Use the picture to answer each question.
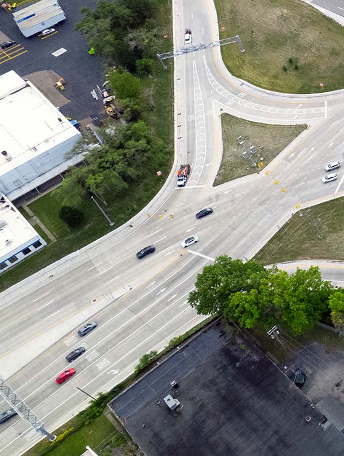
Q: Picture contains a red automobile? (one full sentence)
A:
Yes, the frame does contain a red automobile.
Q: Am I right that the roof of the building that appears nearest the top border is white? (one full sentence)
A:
Yes, white is the color of the roof of the building that appears nearest the top border.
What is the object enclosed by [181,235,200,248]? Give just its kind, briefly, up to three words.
vehicle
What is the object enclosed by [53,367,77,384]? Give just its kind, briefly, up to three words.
car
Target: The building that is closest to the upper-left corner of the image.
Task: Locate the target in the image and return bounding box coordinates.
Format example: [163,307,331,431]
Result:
[0,69,100,209]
